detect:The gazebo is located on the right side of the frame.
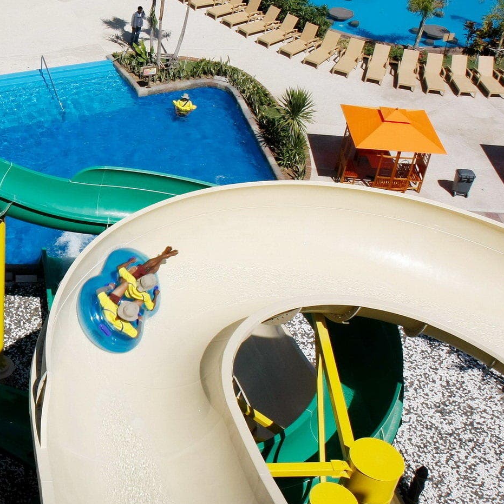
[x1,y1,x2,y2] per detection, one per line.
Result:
[334,98,447,202]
